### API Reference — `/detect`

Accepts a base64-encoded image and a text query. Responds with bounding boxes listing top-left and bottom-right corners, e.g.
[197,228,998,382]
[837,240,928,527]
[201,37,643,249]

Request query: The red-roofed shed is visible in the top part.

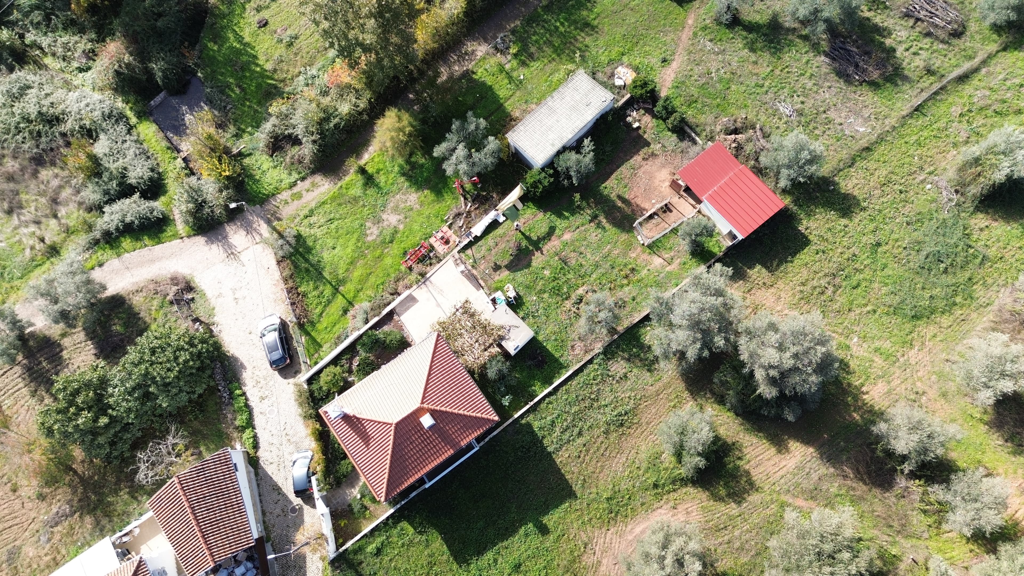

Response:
[677,141,785,245]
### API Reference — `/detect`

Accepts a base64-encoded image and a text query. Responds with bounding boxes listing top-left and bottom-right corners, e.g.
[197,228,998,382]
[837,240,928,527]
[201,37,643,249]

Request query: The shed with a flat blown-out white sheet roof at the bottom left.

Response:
[48,535,127,576]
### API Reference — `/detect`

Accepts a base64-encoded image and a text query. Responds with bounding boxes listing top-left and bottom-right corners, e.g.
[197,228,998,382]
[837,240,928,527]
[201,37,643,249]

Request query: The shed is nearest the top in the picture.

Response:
[507,67,612,173]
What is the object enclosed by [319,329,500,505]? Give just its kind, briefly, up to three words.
house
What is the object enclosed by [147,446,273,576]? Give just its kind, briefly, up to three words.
house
